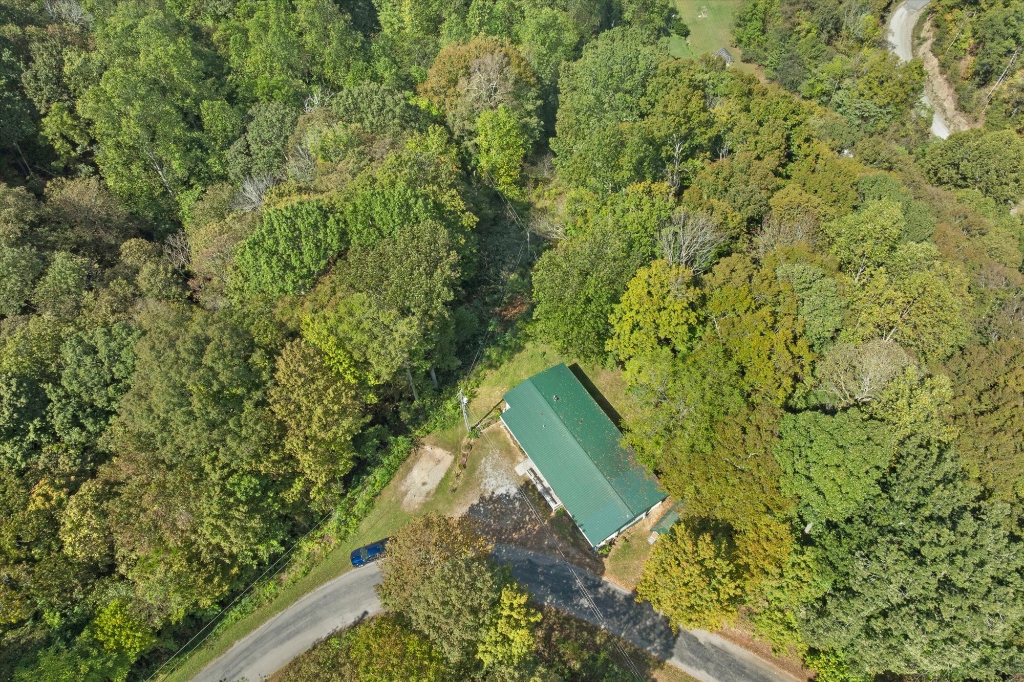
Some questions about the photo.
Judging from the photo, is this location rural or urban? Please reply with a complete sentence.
This place is rural.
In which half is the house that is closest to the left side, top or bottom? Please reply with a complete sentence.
It is in the bottom half that the house that is closest to the left side appears.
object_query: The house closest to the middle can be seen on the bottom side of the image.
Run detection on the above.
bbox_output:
[499,363,670,557]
